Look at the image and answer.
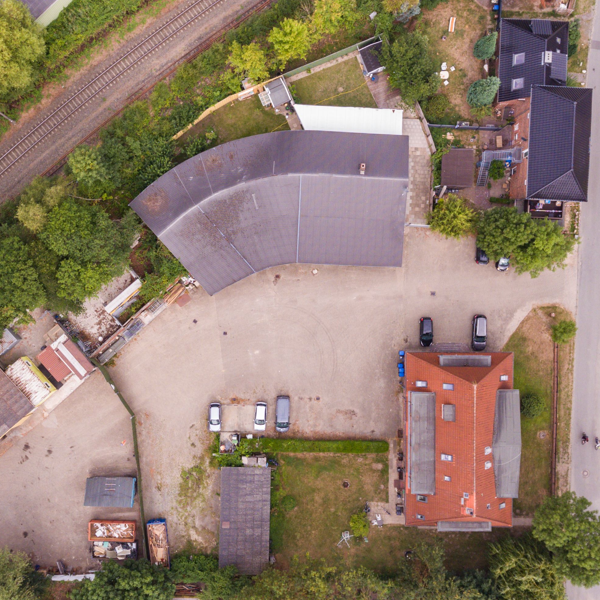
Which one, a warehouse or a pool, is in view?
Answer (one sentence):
There is a warehouse in the scene.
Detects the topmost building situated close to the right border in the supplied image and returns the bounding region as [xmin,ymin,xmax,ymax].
[494,18,570,105]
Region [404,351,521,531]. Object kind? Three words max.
house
